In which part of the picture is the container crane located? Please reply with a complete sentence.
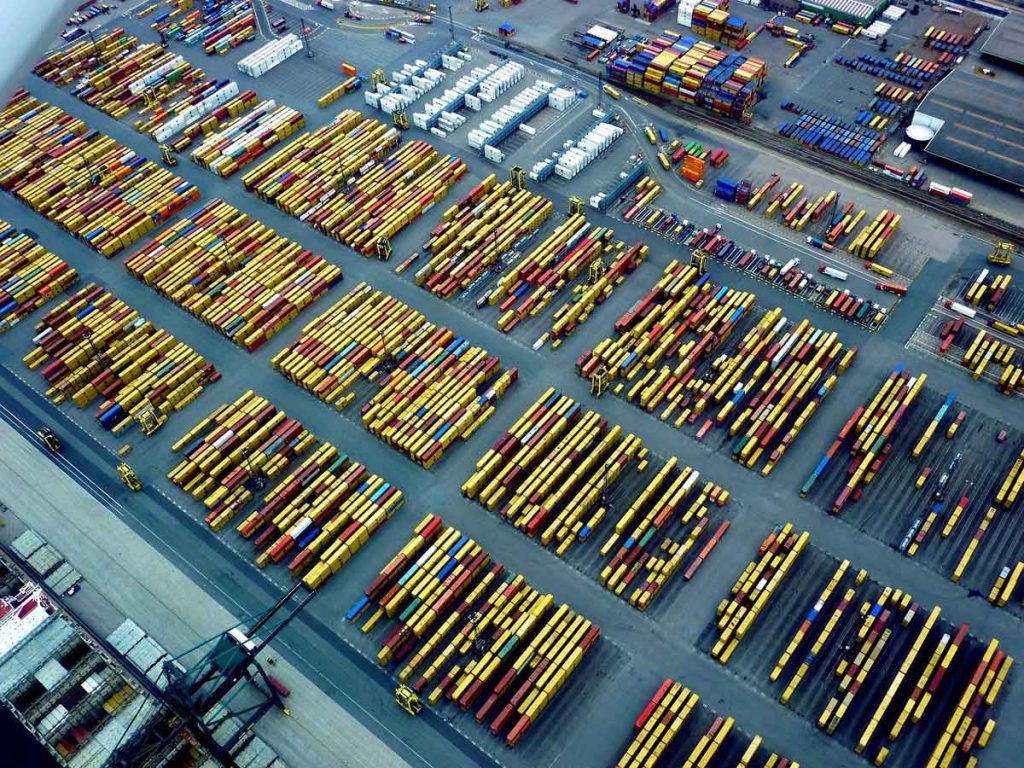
The container crane is in the bottom left part of the image.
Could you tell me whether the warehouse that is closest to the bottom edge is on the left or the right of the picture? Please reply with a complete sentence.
It is on the right.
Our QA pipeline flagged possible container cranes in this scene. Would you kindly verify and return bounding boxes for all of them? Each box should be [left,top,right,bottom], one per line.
[112,583,315,768]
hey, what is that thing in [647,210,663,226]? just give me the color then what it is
yellow vehicle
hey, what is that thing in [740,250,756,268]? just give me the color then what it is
red vehicle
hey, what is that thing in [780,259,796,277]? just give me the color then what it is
white vehicle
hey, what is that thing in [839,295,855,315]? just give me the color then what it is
red vehicle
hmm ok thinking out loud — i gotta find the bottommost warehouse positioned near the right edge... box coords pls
[911,68,1024,201]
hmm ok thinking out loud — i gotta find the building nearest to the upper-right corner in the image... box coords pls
[977,21,1024,77]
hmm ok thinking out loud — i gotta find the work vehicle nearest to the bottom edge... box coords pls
[392,681,419,711]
